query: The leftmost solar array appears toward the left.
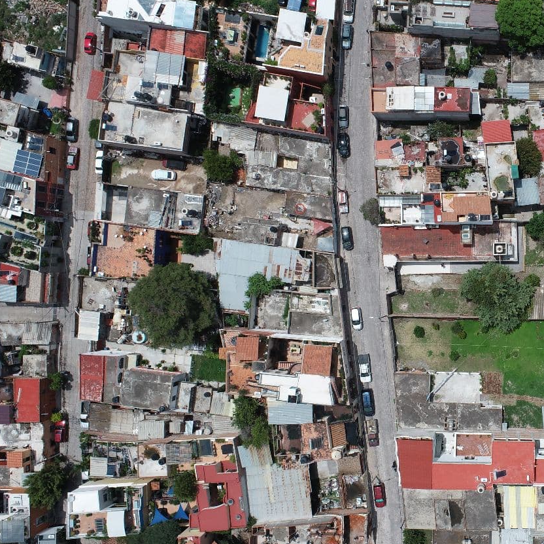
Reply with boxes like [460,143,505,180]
[13,149,43,178]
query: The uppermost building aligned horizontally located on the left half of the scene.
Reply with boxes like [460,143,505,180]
[96,0,213,35]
